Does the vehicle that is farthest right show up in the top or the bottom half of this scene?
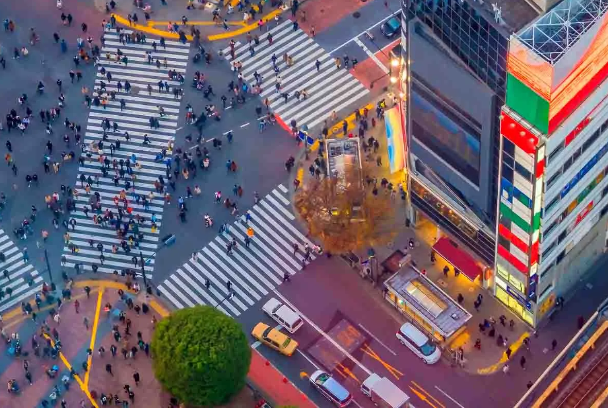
bottom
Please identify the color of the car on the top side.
blue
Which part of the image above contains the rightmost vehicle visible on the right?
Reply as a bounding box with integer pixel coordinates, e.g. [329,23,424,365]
[395,321,439,364]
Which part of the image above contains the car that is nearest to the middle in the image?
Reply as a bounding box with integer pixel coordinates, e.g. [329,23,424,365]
[261,298,305,337]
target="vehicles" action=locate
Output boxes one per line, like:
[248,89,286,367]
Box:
[395,321,439,364]
[358,366,413,408]
[308,371,352,408]
[261,298,305,337]
[252,321,298,360]
[372,11,405,43]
